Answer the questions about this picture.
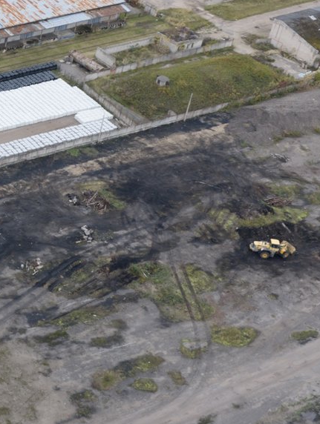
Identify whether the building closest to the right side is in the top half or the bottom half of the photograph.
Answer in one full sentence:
The top half of the photo is where the building closest to the right side is.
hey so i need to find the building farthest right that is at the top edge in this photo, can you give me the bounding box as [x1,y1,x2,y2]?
[260,9,320,70]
